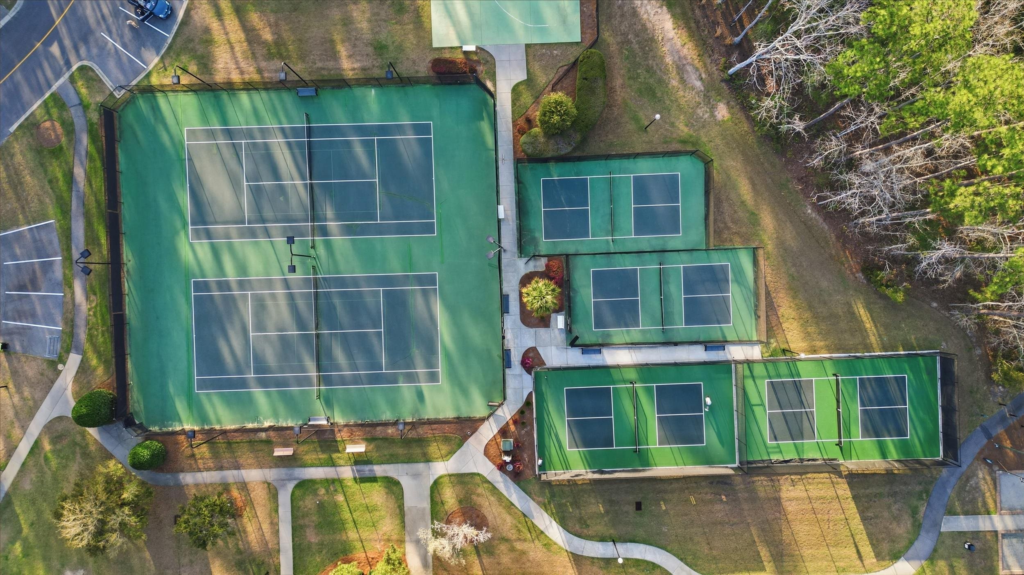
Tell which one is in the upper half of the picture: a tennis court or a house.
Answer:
tennis court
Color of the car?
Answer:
blue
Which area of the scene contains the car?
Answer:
top left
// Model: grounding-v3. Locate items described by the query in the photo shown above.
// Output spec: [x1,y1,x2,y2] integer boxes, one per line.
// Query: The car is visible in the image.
[131,0,172,24]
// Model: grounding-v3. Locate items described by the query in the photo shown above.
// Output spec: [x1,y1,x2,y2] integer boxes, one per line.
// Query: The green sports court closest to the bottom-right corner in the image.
[734,352,941,465]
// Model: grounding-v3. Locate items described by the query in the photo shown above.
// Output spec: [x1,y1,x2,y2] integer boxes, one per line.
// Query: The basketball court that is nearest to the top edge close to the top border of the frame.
[431,0,581,47]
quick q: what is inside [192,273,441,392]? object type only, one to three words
tennis court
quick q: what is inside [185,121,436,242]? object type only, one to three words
tennis court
